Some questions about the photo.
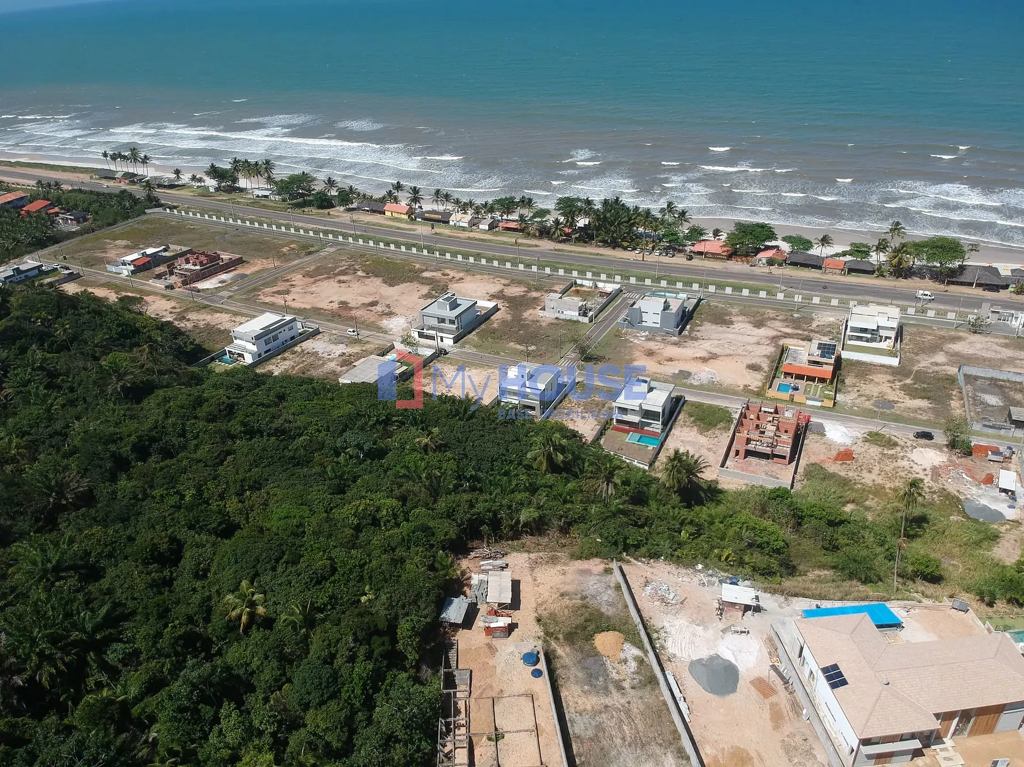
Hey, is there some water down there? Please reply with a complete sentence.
Yes, the picture does contain water.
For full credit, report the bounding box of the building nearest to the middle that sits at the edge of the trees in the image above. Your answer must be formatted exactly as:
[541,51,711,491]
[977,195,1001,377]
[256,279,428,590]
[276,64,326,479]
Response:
[495,361,564,423]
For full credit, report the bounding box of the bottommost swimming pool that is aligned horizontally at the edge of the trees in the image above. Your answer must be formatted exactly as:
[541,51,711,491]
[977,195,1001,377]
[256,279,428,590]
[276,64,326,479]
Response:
[621,435,658,452]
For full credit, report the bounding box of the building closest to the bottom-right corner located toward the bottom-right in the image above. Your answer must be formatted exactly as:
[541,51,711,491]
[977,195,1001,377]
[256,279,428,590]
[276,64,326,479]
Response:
[791,613,1024,764]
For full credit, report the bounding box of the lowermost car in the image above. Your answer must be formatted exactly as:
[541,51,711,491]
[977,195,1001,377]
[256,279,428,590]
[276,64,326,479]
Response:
[910,429,936,441]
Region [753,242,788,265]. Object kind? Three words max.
house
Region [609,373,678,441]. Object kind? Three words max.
house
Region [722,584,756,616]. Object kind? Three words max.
shed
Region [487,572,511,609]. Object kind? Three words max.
shed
